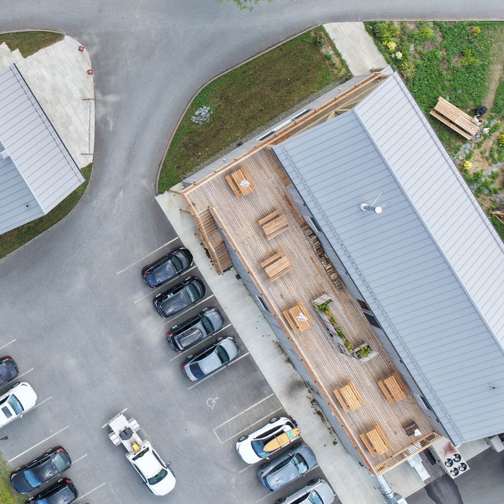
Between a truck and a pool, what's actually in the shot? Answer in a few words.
truck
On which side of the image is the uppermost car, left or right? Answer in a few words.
left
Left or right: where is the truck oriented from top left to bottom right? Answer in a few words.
left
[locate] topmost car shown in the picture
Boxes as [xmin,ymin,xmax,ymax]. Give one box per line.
[143,245,192,287]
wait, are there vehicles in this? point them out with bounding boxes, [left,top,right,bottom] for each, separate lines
[106,411,179,498]
[0,380,38,430]
[181,335,238,382]
[154,275,205,318]
[12,448,70,493]
[26,477,77,504]
[143,245,192,287]
[0,356,18,387]
[237,417,299,463]
[276,479,335,504]
[260,443,318,492]
[167,306,223,353]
